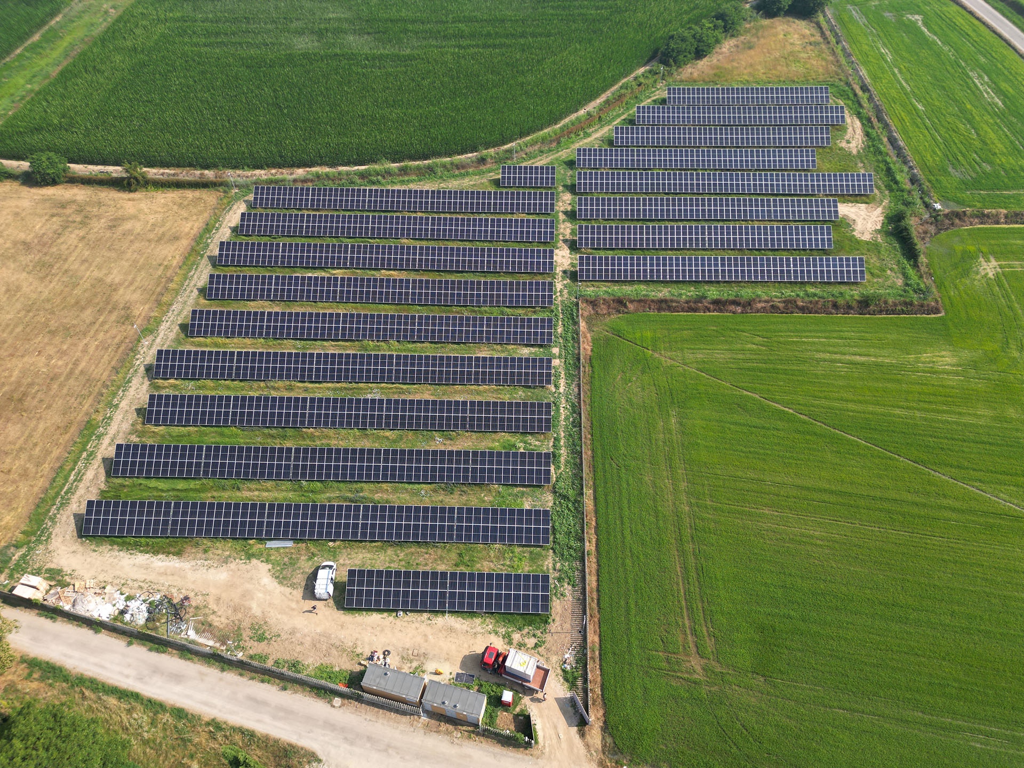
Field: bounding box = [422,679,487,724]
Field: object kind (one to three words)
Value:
building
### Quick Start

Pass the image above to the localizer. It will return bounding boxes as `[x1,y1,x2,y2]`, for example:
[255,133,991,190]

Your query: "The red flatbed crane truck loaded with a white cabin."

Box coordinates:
[474,639,550,691]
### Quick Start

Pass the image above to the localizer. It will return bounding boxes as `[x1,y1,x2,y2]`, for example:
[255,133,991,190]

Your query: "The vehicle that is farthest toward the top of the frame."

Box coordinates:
[314,560,336,598]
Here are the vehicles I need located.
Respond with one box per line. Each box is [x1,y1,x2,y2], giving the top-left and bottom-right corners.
[474,639,550,691]
[314,560,336,598]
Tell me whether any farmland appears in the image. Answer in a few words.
Yes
